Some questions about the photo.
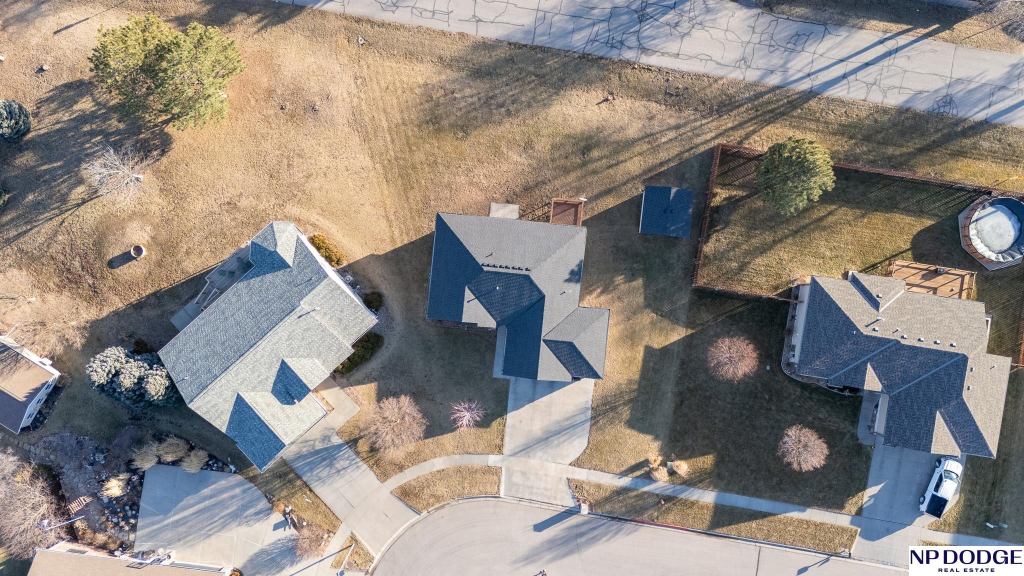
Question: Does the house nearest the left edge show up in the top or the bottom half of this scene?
bottom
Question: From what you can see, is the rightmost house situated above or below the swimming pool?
below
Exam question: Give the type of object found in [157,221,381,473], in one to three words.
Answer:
house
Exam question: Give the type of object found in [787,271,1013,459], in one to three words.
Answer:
house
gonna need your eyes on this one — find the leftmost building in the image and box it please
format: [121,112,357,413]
[0,332,64,435]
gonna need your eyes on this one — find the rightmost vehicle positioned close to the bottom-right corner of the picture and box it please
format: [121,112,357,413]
[919,454,965,522]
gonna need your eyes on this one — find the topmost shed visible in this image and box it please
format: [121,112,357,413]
[638,185,695,238]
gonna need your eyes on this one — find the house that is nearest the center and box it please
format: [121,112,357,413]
[426,211,611,383]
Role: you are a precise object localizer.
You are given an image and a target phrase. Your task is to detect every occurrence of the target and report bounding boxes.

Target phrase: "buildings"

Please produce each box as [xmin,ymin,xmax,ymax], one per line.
[787,271,1013,459]
[638,185,695,238]
[26,541,237,576]
[0,332,64,435]
[157,221,381,473]
[426,211,611,383]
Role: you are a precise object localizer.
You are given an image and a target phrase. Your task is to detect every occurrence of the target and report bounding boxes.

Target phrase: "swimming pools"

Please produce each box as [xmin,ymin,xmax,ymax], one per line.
[953,182,1024,271]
